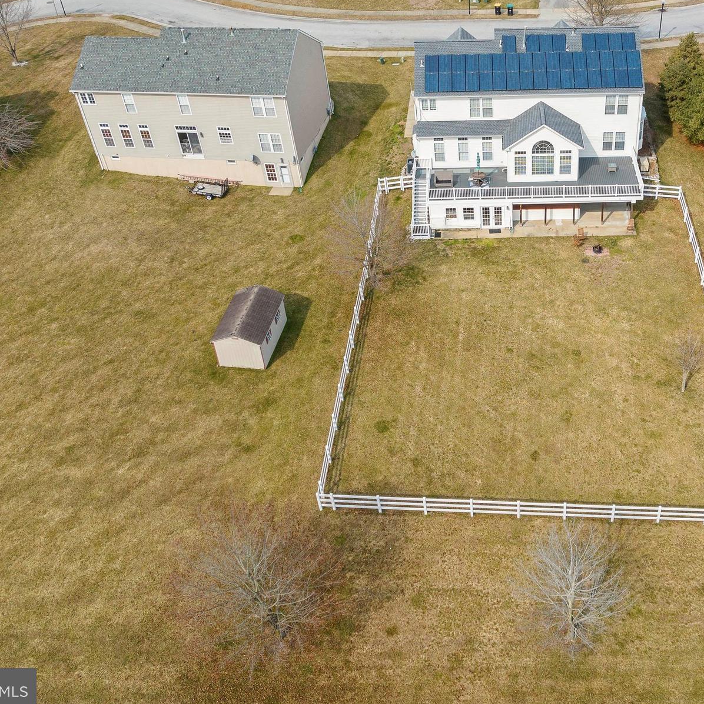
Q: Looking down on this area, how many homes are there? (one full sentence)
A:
In total, 2 homes can be seen.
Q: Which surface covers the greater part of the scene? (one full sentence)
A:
Most of the picture is covered by grass.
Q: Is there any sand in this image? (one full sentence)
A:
No, the scene doesn't show any sand.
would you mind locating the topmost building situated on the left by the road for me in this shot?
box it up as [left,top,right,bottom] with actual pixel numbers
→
[73,25,343,184]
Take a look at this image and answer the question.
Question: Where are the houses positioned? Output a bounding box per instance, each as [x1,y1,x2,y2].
[411,19,645,230]
[73,25,343,184]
